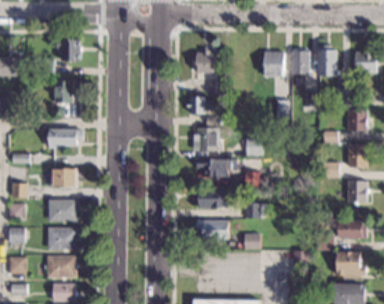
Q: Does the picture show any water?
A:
No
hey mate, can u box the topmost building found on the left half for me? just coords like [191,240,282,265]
[64,39,85,62]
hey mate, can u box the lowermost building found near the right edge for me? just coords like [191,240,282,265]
[334,284,368,304]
